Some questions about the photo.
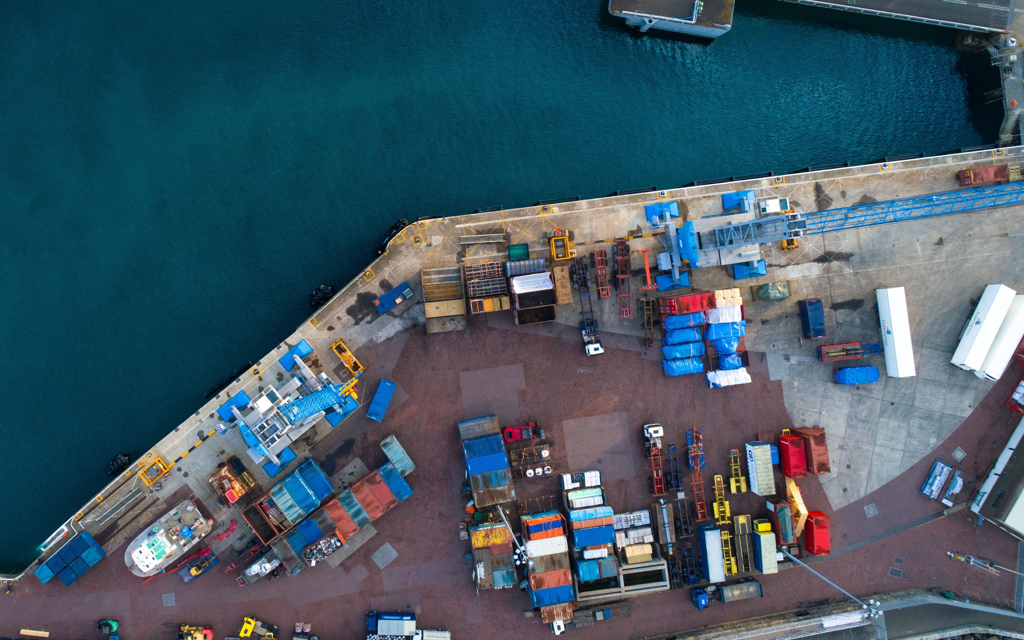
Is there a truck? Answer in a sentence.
Yes, the photo shows a truck.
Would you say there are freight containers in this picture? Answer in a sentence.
Yes, a freight container appears in the view.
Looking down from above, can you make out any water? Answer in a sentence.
Yes, there's water in this view.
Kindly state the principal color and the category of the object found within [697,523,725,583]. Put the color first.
white trailer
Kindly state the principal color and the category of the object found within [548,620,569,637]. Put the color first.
white vehicle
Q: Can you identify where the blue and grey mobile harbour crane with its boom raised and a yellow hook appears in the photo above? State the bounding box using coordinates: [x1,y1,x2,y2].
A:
[218,338,361,474]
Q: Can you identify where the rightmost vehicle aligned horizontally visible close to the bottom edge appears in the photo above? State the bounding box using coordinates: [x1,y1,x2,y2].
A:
[685,578,762,609]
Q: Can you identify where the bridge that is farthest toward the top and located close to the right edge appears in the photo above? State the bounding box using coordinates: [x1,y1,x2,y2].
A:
[741,0,1014,37]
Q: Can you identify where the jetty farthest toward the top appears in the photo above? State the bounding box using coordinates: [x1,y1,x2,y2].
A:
[607,0,734,41]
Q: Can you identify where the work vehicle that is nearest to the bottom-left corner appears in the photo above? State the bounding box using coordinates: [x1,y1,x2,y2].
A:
[91,614,126,633]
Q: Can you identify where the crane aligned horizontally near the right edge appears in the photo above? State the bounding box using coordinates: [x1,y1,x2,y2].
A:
[644,181,1024,291]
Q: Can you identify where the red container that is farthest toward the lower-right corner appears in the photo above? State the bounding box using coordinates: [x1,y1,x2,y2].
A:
[804,511,830,556]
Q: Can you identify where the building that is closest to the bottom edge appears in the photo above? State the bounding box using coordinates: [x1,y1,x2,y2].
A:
[972,418,1024,541]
